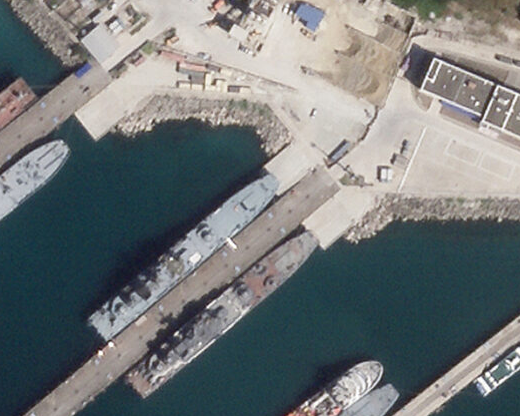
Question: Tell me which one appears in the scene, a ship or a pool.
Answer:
ship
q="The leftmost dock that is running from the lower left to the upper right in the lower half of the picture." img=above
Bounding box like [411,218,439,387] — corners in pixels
[25,165,340,416]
